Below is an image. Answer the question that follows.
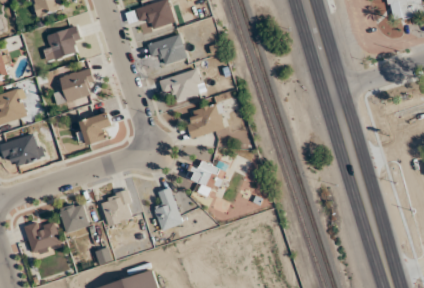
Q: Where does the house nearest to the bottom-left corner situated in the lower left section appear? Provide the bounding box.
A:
[21,217,60,250]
